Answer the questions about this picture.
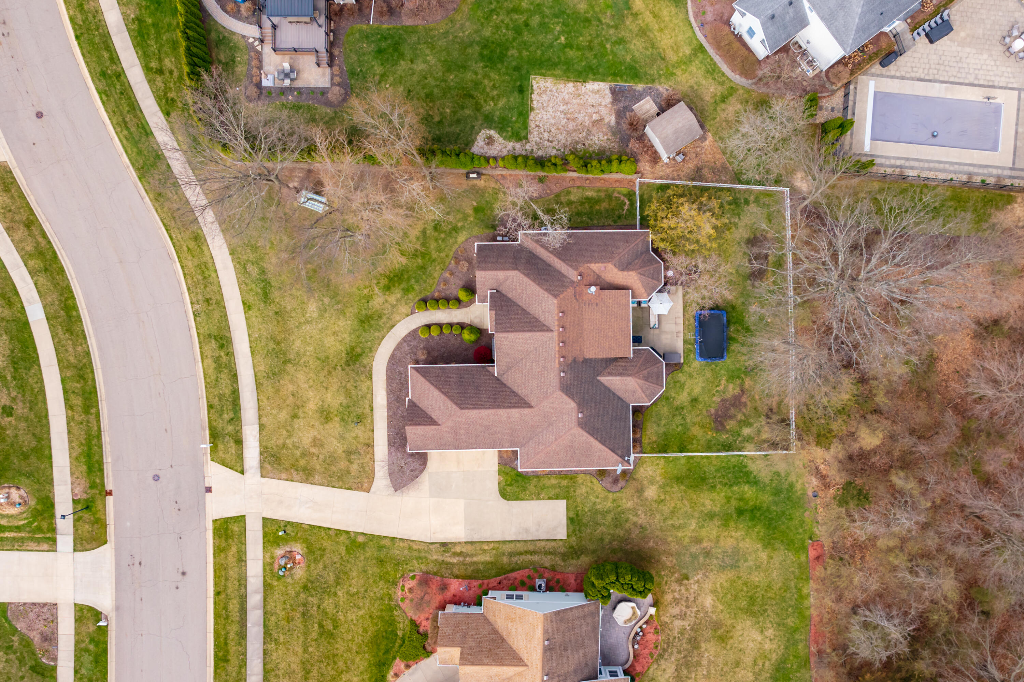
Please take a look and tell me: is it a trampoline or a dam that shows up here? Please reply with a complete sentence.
The image shows a trampoline.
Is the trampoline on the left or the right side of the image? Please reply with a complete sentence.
The trampoline is on the right side of the image.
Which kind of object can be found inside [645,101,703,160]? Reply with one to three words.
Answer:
shed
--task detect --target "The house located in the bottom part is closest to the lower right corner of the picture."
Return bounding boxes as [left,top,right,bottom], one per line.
[437,590,631,682]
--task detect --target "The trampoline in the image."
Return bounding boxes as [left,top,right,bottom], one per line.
[694,310,729,361]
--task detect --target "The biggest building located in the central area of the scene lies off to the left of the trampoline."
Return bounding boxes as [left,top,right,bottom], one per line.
[405,229,666,471]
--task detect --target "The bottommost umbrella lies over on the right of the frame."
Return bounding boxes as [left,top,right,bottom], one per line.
[649,292,673,314]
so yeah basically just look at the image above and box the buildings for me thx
[405,229,666,471]
[730,0,928,72]
[645,101,703,160]
[437,590,631,682]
